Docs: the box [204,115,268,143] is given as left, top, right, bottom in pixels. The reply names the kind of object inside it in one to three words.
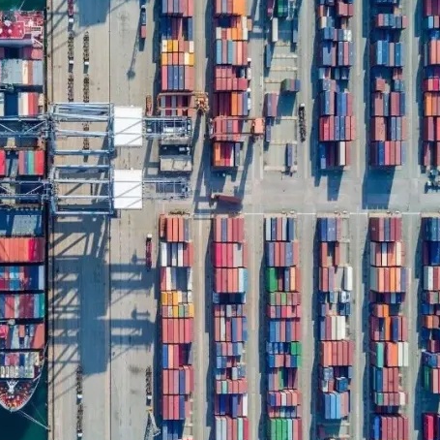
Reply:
crane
